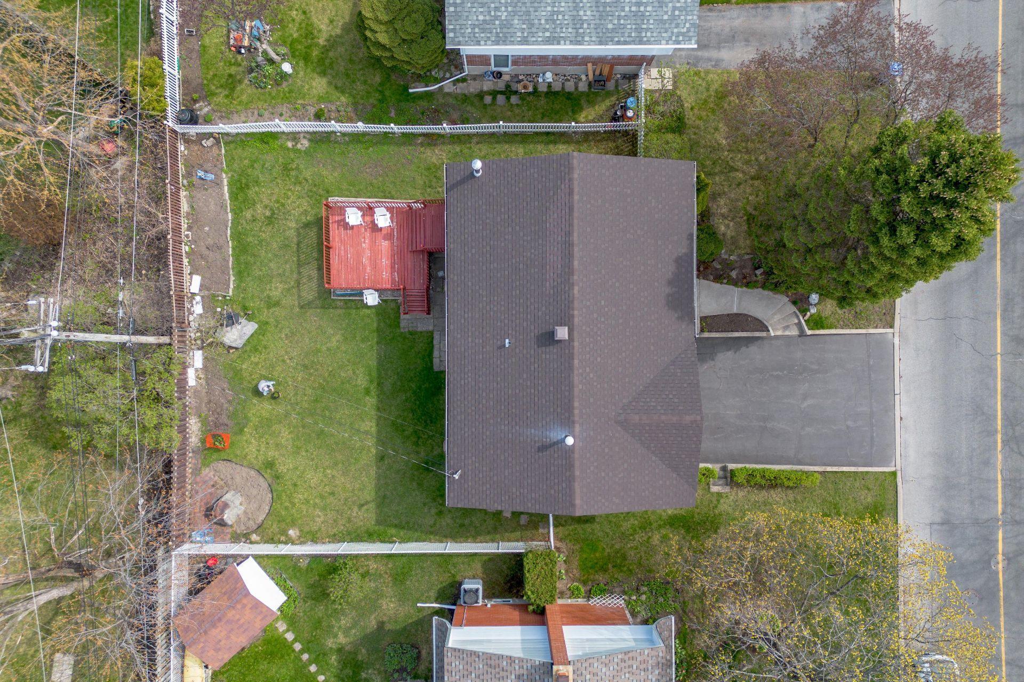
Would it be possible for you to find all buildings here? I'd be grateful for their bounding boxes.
[172,555,290,670]
[418,599,677,682]
[409,0,701,92]
[444,153,704,516]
